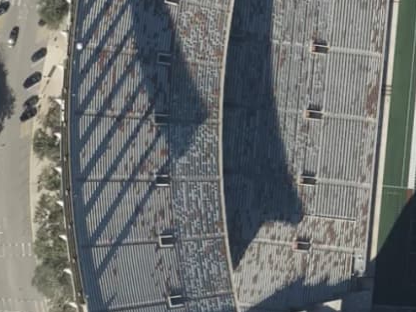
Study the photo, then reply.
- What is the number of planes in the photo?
0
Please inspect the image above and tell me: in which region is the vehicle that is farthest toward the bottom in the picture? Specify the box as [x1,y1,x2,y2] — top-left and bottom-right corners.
[20,107,36,122]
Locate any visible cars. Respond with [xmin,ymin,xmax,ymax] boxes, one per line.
[25,72,40,86]
[9,26,18,44]
[31,47,47,62]
[20,107,36,122]
[25,93,40,108]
